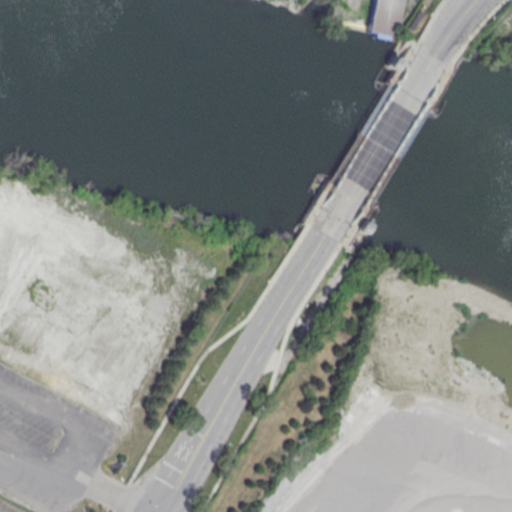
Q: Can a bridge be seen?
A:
Yes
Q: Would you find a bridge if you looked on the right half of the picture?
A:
Yes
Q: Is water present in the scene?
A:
Yes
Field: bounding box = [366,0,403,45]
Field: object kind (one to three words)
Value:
building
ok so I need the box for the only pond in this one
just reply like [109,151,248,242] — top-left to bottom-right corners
[453,318,512,409]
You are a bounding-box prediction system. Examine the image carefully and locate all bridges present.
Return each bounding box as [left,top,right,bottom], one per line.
[290,40,469,247]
